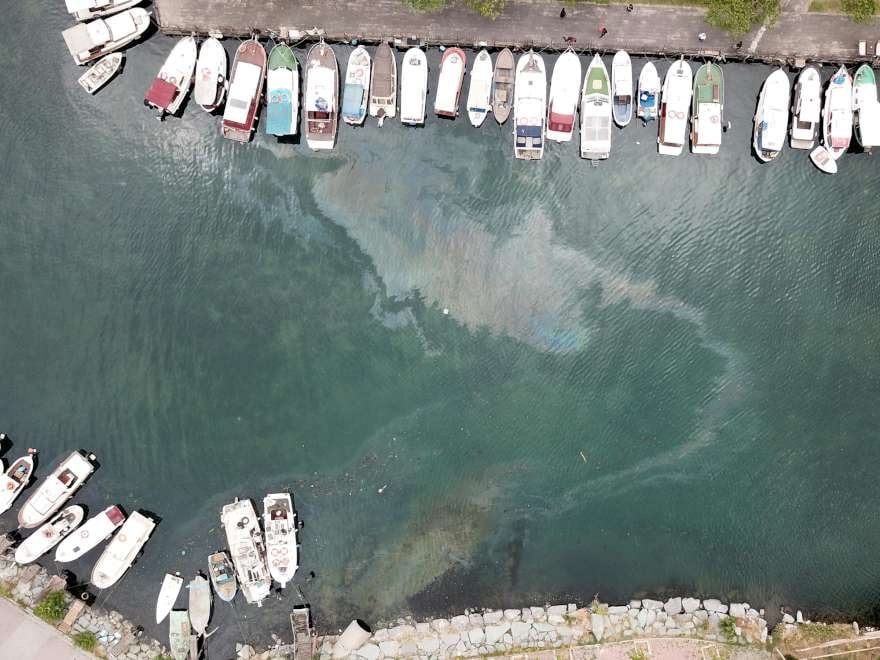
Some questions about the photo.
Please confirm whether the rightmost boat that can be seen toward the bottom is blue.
No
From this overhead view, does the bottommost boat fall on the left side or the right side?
left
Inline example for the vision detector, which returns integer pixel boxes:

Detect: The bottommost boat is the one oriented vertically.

[168,608,192,660]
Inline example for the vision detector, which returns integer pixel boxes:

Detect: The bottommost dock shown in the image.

[292,605,315,660]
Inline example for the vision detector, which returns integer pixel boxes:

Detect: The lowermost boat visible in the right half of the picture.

[805,144,838,174]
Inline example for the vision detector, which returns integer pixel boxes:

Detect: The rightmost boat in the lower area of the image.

[263,491,303,593]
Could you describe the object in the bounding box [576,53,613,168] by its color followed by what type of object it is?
white boat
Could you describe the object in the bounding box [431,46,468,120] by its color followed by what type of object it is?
white boat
